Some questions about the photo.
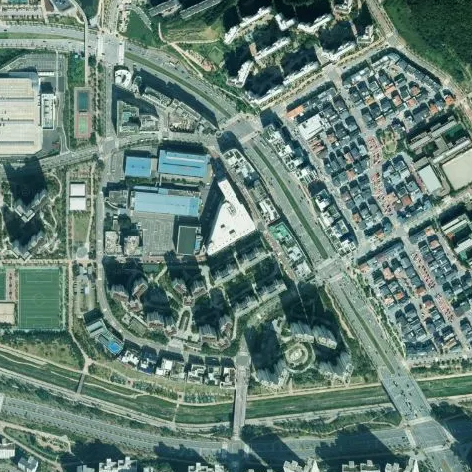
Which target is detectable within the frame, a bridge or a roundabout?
bridge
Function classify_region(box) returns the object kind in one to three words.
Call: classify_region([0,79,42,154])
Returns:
building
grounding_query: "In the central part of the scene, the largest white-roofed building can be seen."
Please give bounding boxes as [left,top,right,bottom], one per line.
[205,177,257,259]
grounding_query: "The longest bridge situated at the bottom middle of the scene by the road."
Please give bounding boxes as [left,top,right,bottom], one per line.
[233,367,250,438]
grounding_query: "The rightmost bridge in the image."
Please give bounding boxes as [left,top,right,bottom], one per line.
[379,363,433,430]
